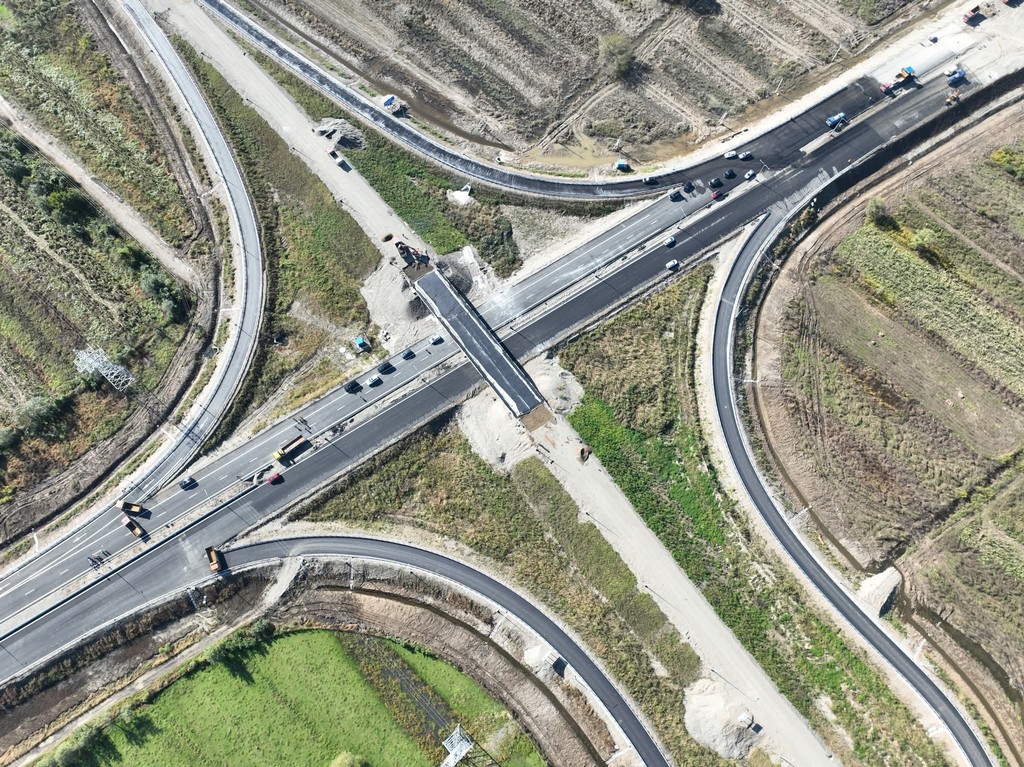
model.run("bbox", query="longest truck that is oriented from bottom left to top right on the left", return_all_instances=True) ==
[270,432,306,460]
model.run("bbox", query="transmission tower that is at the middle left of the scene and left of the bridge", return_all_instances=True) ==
[69,346,136,397]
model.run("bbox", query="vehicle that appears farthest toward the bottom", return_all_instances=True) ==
[201,542,221,573]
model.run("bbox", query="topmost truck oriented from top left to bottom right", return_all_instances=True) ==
[328,144,349,166]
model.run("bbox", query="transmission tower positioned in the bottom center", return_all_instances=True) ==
[434,720,474,767]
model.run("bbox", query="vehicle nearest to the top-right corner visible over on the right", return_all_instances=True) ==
[964,0,985,20]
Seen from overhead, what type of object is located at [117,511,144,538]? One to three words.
truck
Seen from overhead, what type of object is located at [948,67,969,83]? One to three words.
vehicle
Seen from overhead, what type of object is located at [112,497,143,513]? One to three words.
vehicle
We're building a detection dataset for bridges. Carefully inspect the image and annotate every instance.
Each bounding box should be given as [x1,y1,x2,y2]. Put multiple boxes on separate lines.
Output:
[401,254,555,433]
